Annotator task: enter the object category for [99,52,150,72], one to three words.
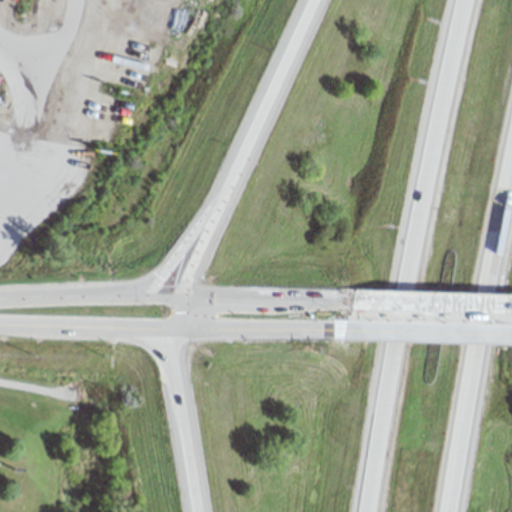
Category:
vehicle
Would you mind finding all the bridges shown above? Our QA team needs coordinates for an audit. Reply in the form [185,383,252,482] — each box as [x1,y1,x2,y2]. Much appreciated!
[350,290,512,344]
